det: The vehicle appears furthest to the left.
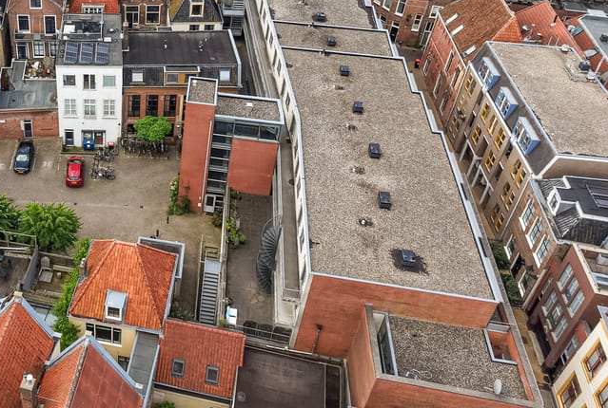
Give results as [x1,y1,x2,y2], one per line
[11,140,34,175]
